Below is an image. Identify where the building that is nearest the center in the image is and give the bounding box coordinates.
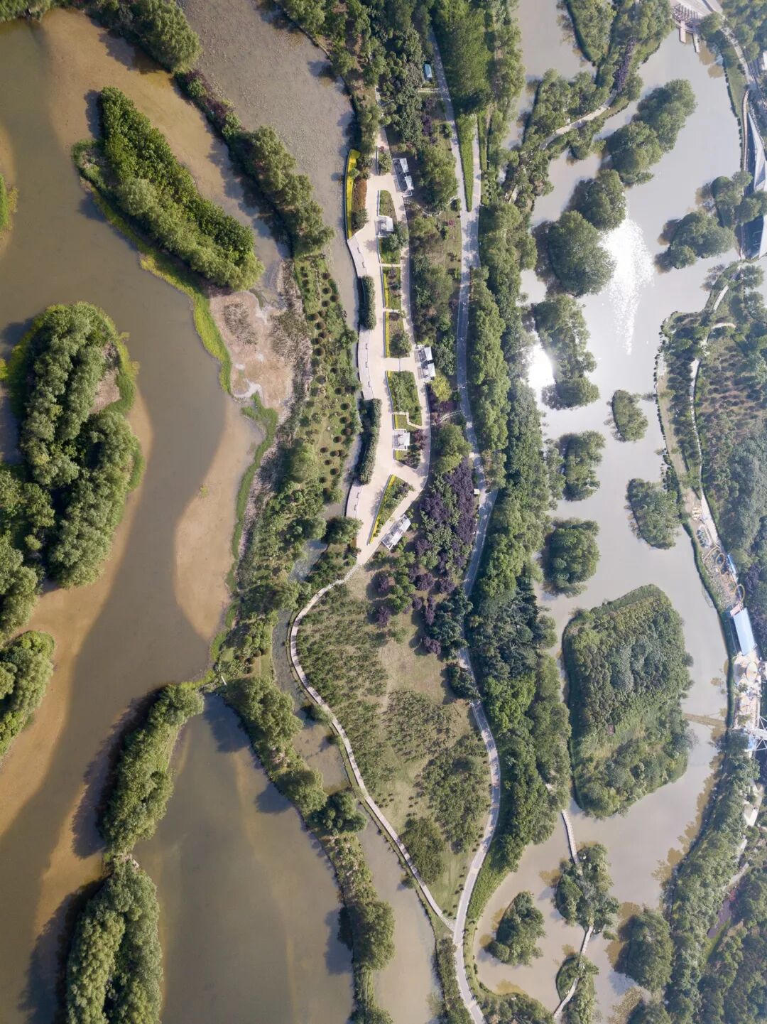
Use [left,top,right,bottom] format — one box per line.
[382,514,411,549]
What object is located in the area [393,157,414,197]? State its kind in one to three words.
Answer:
building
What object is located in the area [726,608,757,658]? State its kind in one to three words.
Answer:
building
